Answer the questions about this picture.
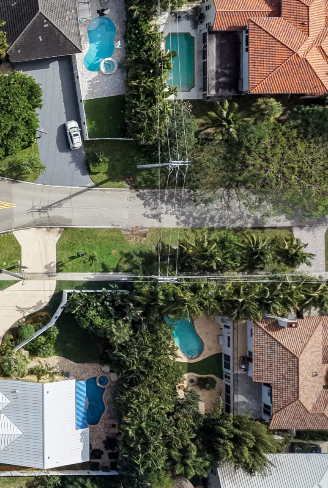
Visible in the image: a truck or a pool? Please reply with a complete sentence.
The image shows a pool.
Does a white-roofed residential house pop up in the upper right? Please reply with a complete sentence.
No, I can find no white-roofed residential house in the upper right.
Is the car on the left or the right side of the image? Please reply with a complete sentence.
The car is on the left side of the image.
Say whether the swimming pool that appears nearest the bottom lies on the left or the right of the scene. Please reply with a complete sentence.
The swimming pool that appears nearest the bottom is on the left side of the image.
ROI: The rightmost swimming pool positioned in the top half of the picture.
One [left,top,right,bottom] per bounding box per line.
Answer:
[159,32,196,93]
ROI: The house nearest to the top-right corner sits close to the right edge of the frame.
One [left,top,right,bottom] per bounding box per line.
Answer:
[202,0,328,95]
